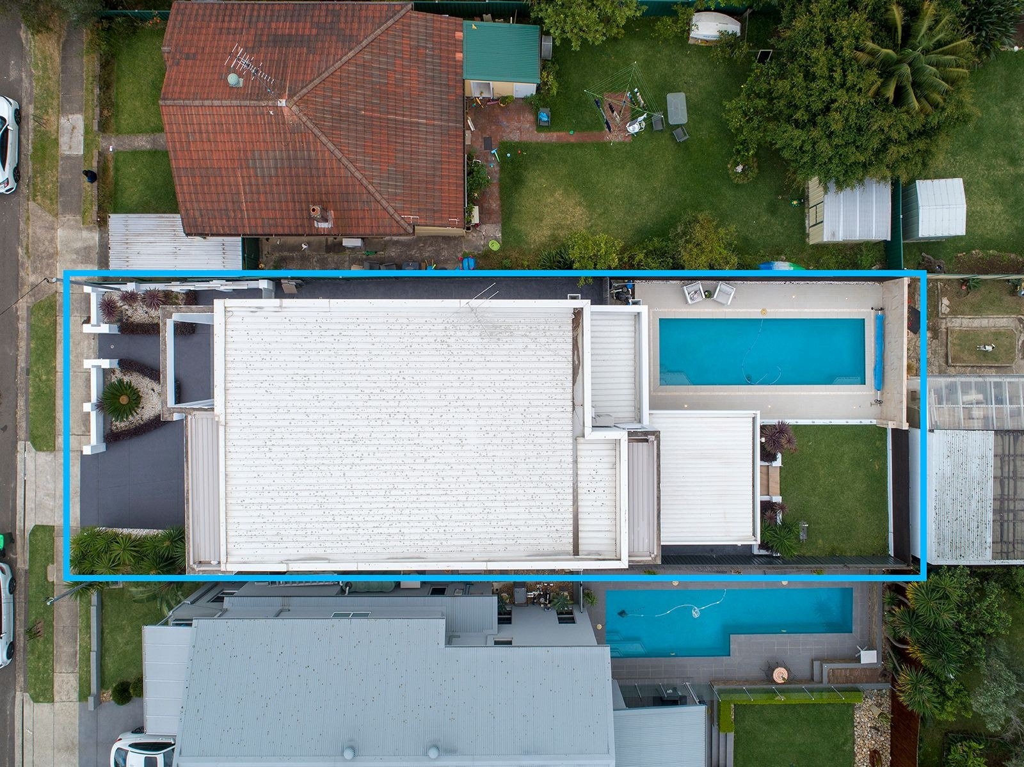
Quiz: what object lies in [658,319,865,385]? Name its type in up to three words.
swimming pool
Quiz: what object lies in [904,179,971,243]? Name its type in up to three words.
shed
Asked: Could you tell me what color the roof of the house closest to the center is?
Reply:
white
